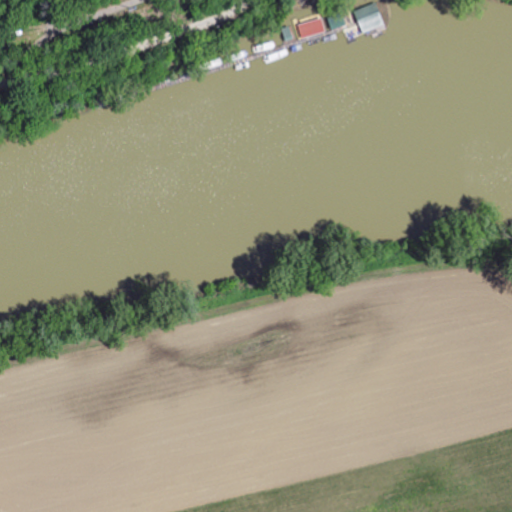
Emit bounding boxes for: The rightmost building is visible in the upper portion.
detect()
[353,4,386,39]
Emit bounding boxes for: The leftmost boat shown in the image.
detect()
[204,60,221,72]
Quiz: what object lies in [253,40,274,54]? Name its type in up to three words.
boat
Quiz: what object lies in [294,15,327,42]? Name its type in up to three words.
house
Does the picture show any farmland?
Yes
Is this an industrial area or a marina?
marina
